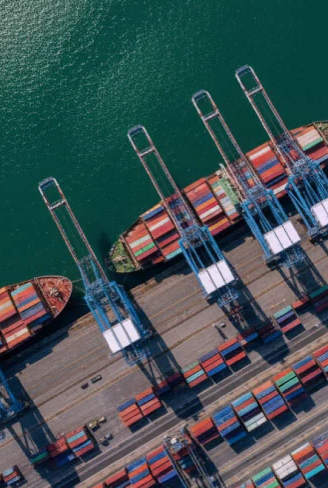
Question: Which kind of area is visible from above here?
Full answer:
The area seen from above is a port.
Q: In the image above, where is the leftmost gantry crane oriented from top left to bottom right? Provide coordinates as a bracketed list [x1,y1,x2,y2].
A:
[35,174,167,362]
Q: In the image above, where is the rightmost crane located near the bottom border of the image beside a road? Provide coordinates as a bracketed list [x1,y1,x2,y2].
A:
[152,418,222,488]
